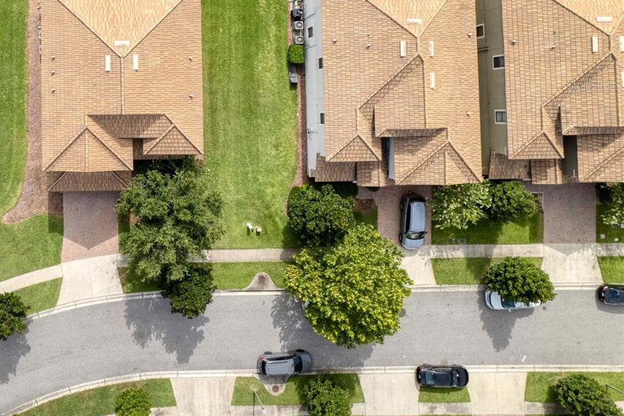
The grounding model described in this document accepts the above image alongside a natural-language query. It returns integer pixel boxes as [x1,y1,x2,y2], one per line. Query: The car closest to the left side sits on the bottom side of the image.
[258,352,315,381]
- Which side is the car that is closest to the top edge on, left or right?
right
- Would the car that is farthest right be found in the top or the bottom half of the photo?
bottom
